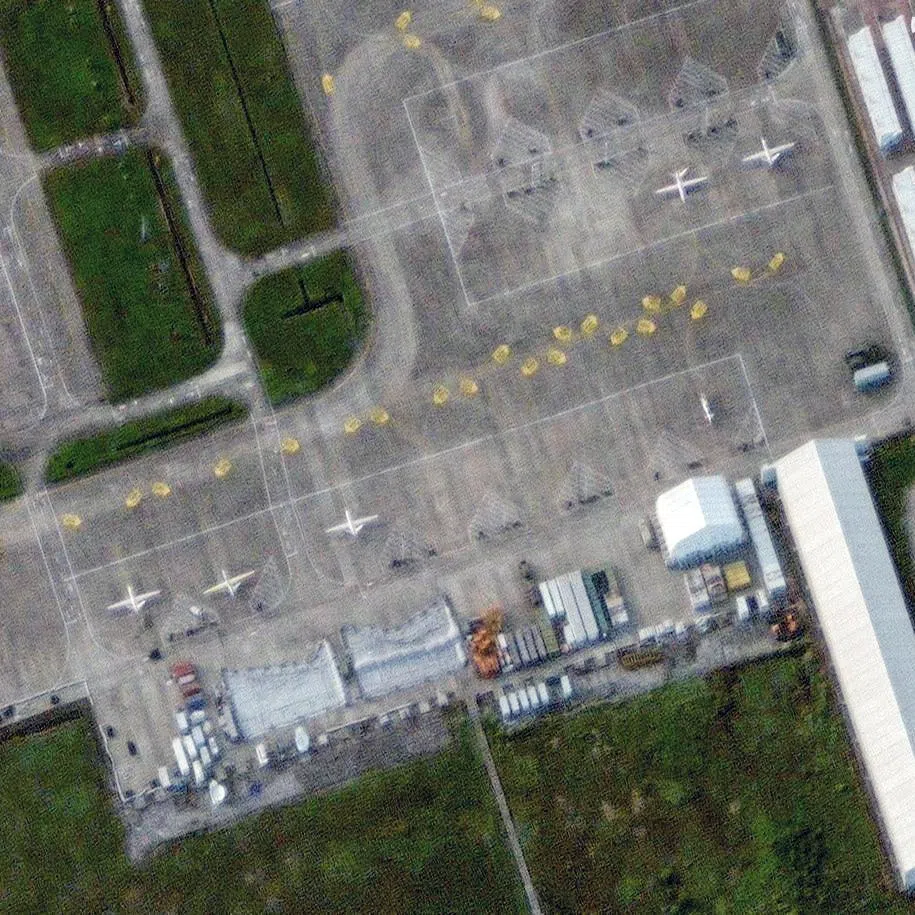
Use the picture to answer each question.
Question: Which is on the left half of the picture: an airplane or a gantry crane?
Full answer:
It is an airplane that can be seen on the left half of the picture.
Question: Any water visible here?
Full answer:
No, the scene doesn't show any water.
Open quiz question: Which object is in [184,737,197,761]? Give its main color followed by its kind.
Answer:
white vehicle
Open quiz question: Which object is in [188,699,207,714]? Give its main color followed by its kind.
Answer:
blue vehicle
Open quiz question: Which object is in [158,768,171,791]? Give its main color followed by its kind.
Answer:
white vehicle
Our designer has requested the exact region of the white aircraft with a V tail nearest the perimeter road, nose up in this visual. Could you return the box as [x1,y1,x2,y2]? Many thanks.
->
[743,138,793,168]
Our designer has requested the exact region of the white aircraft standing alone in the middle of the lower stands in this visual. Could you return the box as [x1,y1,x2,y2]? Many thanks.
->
[326,511,377,538]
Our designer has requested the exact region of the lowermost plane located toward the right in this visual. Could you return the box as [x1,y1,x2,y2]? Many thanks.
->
[701,395,716,424]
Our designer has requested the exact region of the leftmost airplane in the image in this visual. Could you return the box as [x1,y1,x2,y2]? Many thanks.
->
[109,587,159,614]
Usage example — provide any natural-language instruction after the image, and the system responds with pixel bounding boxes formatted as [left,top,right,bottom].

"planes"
[701,395,716,424]
[743,138,793,168]
[204,571,253,598]
[326,511,377,538]
[109,587,159,614]
[655,167,706,201]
